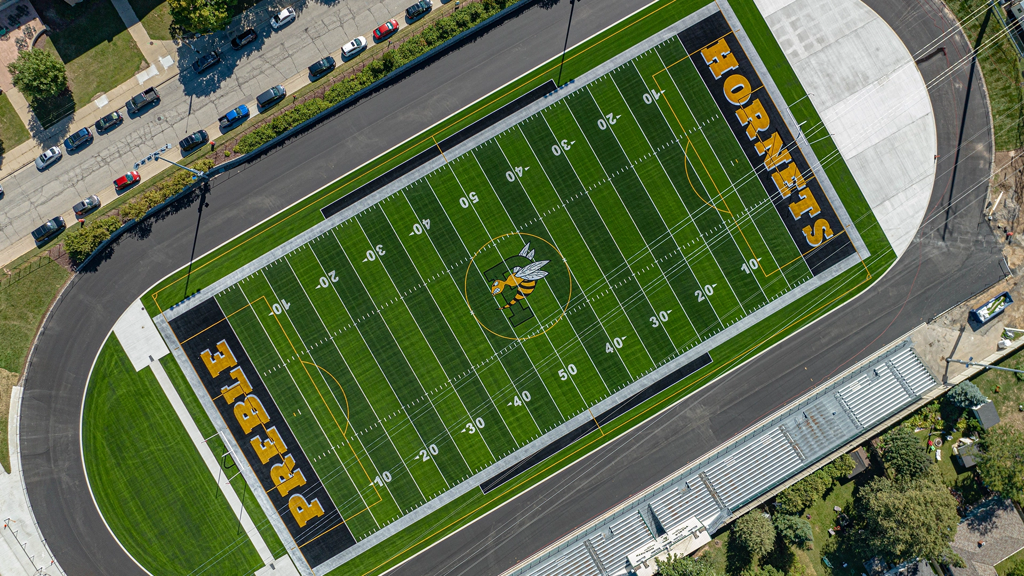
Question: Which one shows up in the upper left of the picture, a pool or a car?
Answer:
car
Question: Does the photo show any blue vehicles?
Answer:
Yes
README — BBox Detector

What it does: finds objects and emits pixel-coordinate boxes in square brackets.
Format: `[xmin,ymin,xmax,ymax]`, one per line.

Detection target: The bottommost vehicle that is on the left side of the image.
[30,217,66,242]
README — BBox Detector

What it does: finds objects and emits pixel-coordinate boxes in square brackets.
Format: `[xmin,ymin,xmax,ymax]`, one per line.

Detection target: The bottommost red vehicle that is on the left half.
[112,169,142,191]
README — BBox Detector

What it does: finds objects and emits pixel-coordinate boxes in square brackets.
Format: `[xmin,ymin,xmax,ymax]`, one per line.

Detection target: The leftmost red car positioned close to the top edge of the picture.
[372,19,400,41]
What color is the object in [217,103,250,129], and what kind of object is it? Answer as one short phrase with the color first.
blue truck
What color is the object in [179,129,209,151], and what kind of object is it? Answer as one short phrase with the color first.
black car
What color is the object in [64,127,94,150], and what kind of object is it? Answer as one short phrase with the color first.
blue car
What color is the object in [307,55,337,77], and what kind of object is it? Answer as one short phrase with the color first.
black car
